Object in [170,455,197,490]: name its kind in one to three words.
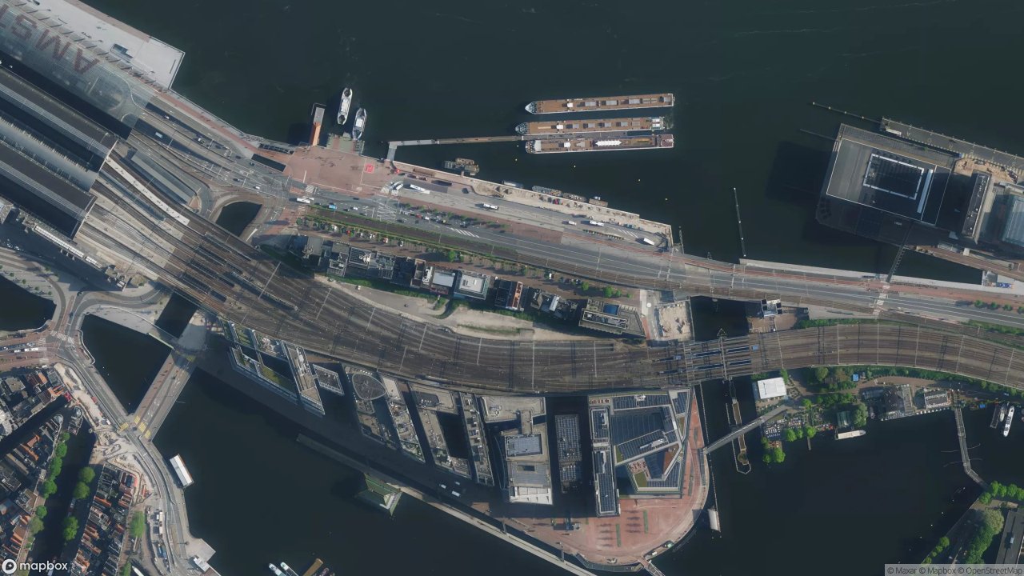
house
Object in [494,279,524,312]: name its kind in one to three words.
building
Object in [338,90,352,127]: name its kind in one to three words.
ship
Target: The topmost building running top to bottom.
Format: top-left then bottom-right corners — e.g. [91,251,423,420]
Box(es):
[310,109,326,149]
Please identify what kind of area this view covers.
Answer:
port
